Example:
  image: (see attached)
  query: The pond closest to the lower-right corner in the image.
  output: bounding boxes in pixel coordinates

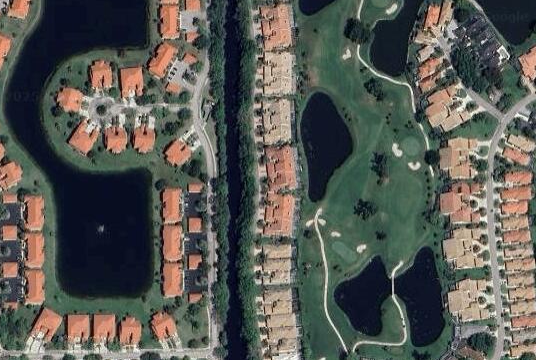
[334,247,443,346]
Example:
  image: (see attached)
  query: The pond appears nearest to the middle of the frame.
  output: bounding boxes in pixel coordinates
[302,94,351,201]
